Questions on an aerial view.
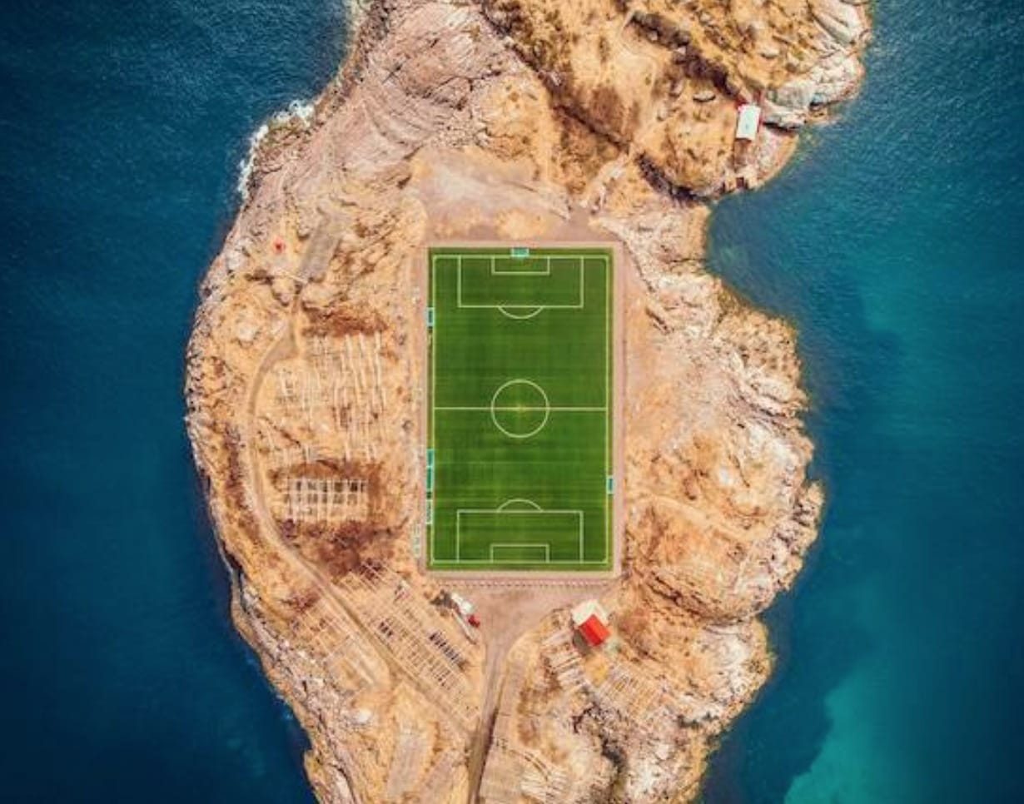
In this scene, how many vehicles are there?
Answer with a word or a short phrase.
1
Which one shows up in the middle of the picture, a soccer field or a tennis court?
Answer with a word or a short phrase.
soccer field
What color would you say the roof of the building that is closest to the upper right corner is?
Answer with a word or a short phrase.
white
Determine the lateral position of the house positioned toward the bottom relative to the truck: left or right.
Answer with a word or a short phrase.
on the right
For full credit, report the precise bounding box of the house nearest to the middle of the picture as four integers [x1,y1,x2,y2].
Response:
[567,596,610,644]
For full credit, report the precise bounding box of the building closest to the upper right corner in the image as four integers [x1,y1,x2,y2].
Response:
[734,102,759,144]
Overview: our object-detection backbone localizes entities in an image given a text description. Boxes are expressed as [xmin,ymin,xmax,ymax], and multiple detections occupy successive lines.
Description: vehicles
[452,593,480,625]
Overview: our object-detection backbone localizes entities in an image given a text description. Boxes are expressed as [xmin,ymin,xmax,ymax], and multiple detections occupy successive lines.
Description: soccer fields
[419,239,621,579]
